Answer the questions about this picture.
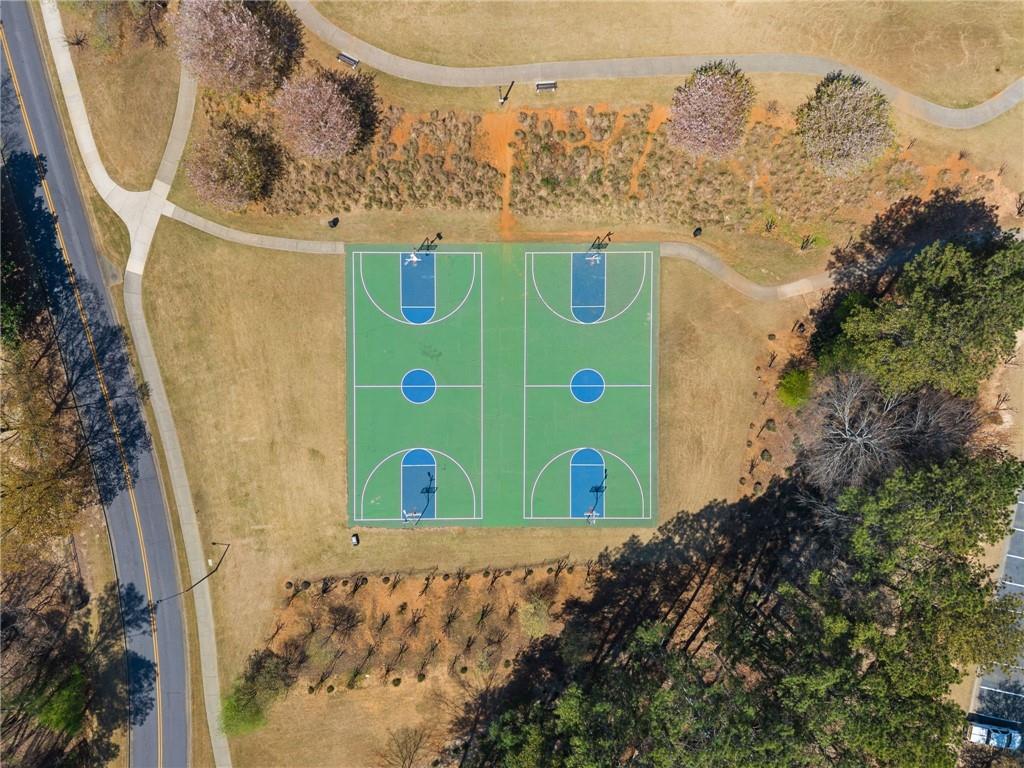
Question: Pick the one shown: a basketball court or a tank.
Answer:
basketball court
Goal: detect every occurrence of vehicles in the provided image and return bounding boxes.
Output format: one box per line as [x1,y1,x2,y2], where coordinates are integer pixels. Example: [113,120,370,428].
[970,724,1024,752]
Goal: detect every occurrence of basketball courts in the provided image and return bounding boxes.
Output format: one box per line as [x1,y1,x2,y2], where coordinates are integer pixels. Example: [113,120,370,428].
[503,243,660,527]
[346,244,503,528]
